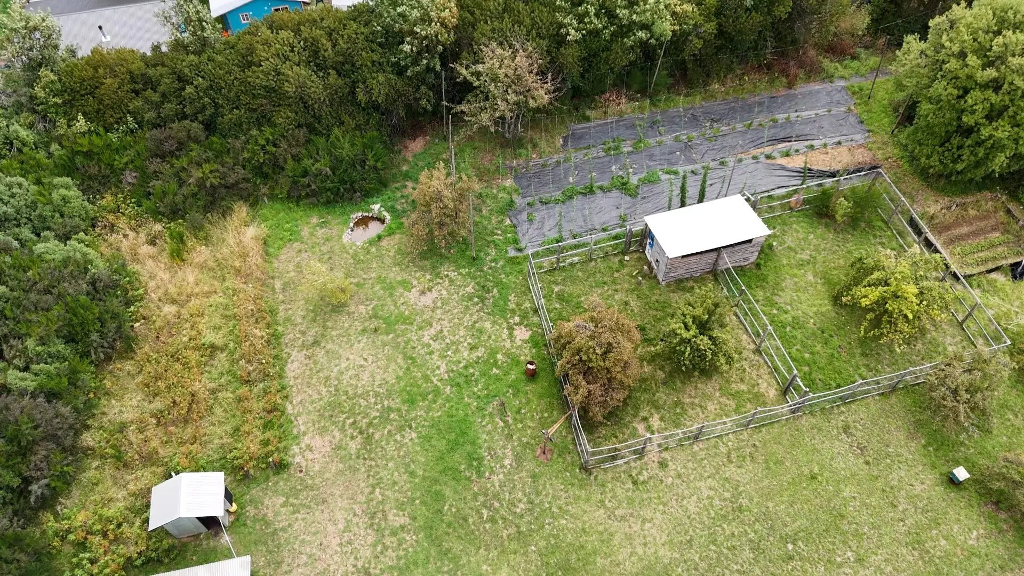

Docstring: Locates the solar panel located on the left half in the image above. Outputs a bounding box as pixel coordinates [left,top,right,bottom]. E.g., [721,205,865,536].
[224,484,239,518]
